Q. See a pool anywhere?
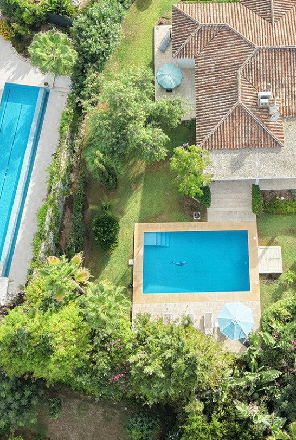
Yes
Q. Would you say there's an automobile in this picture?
No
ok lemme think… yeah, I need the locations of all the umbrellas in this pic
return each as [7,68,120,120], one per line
[218,303,254,339]
[156,65,183,88]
